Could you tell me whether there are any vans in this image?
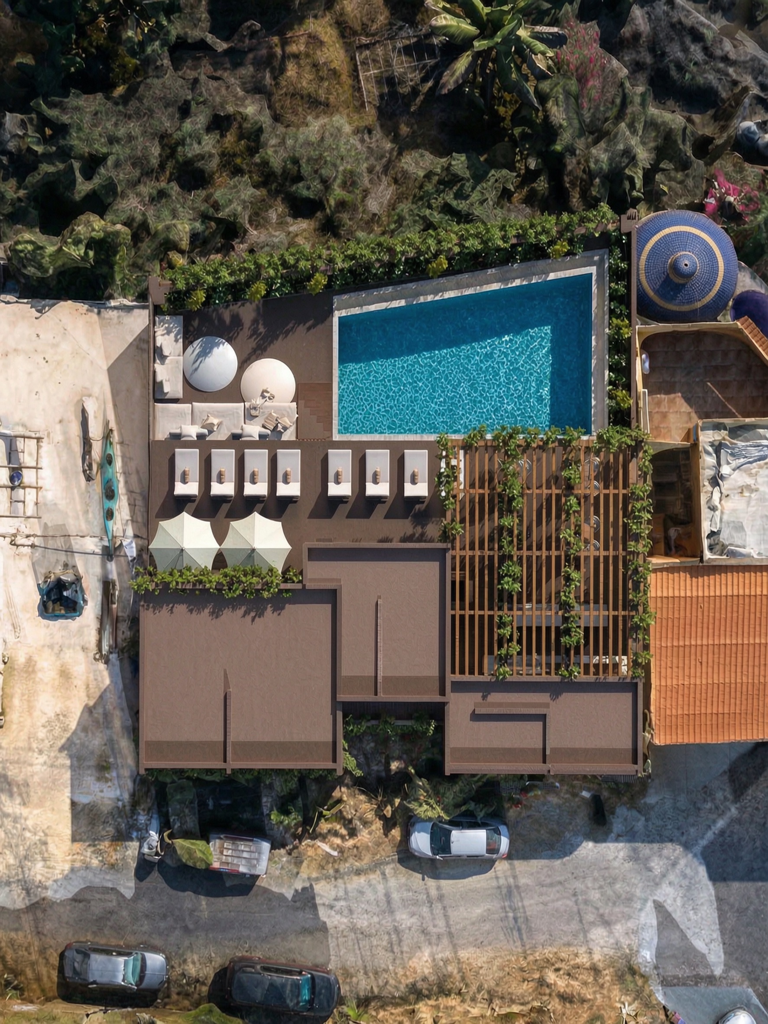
Yes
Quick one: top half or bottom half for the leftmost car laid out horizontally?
bottom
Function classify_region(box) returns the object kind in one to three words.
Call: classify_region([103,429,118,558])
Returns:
boat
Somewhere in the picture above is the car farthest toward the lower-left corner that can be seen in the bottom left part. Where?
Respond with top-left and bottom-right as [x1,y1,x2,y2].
[62,937,173,996]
